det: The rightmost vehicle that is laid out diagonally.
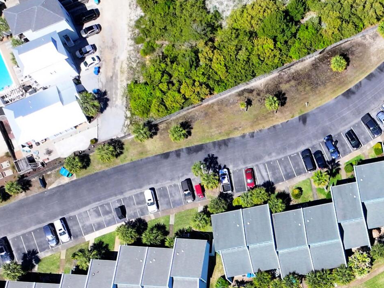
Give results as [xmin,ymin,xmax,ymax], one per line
[361,113,380,136]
